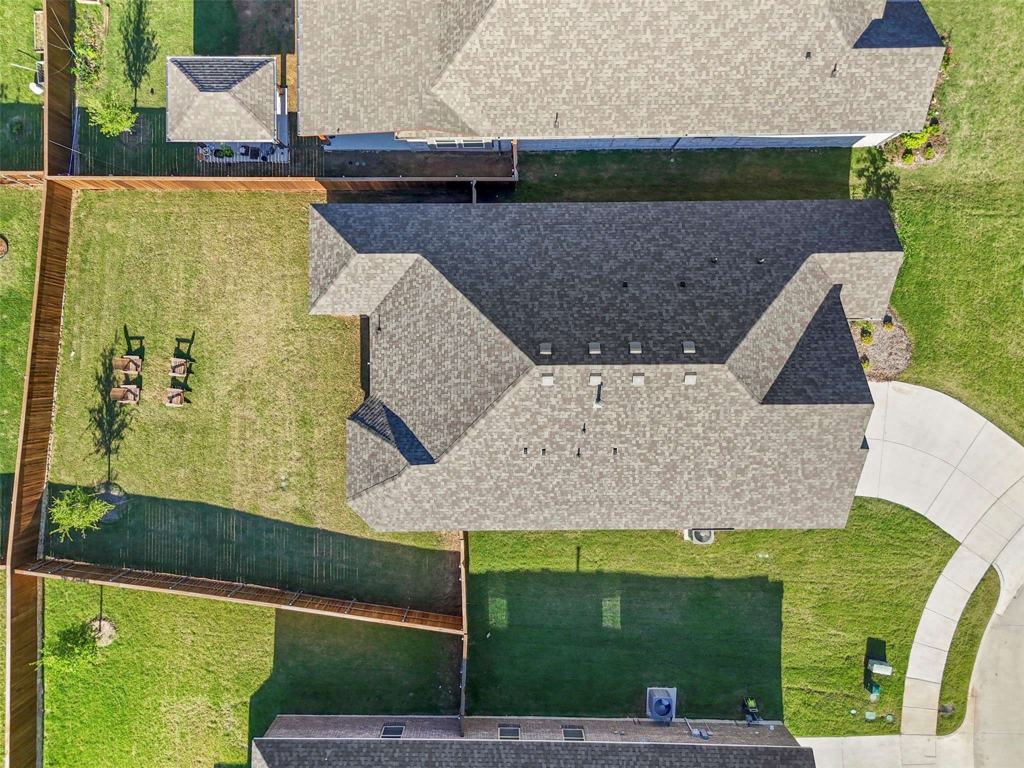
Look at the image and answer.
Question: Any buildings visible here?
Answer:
Yes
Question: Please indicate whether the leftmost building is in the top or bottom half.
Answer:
top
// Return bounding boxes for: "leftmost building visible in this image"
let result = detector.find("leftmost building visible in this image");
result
[166,56,288,150]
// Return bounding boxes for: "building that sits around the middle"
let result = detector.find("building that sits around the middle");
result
[308,200,902,530]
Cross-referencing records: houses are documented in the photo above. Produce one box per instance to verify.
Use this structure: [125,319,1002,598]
[250,714,813,768]
[294,0,938,149]
[308,200,902,530]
